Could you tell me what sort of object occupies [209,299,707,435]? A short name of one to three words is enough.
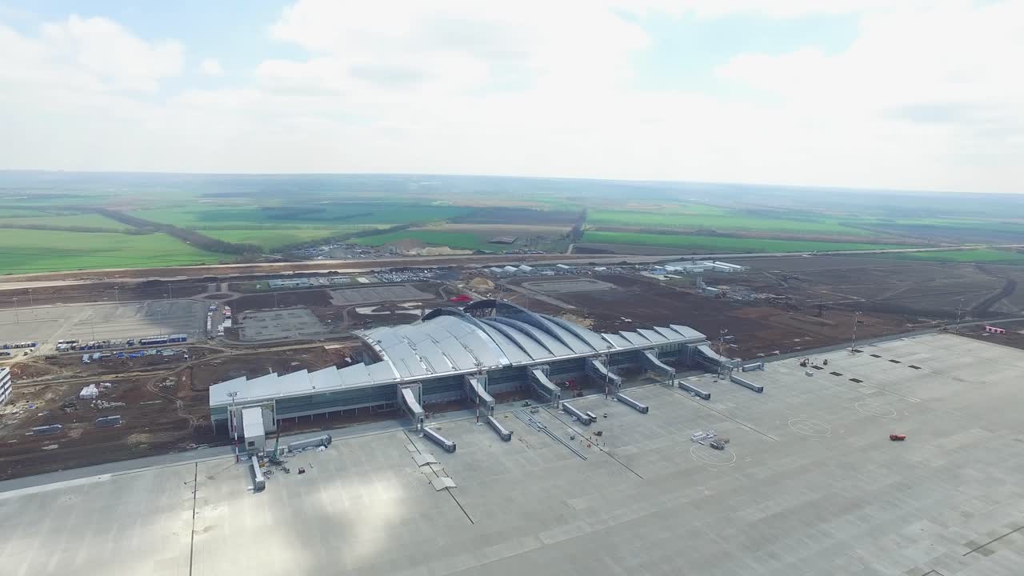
building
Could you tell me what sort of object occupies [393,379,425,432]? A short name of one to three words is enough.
jet bridge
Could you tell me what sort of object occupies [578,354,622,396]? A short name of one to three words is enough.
jet bridge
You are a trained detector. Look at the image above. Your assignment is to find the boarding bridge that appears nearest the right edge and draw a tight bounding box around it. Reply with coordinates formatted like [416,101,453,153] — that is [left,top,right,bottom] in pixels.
[675,339,743,377]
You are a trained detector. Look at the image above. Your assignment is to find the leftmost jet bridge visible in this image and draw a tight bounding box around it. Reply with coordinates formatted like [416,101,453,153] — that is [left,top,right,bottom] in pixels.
[227,399,277,456]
